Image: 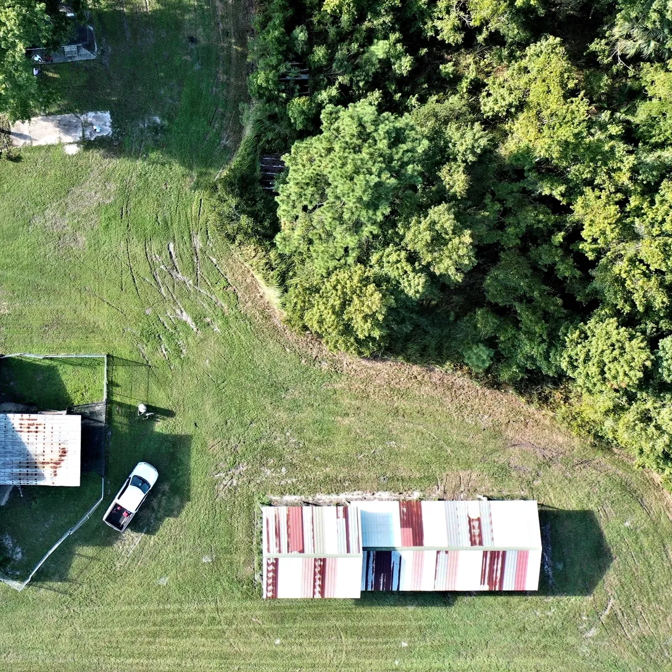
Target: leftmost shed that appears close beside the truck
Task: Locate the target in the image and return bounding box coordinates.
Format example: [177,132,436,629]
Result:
[0,409,83,485]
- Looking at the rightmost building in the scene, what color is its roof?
white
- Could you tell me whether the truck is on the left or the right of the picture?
left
